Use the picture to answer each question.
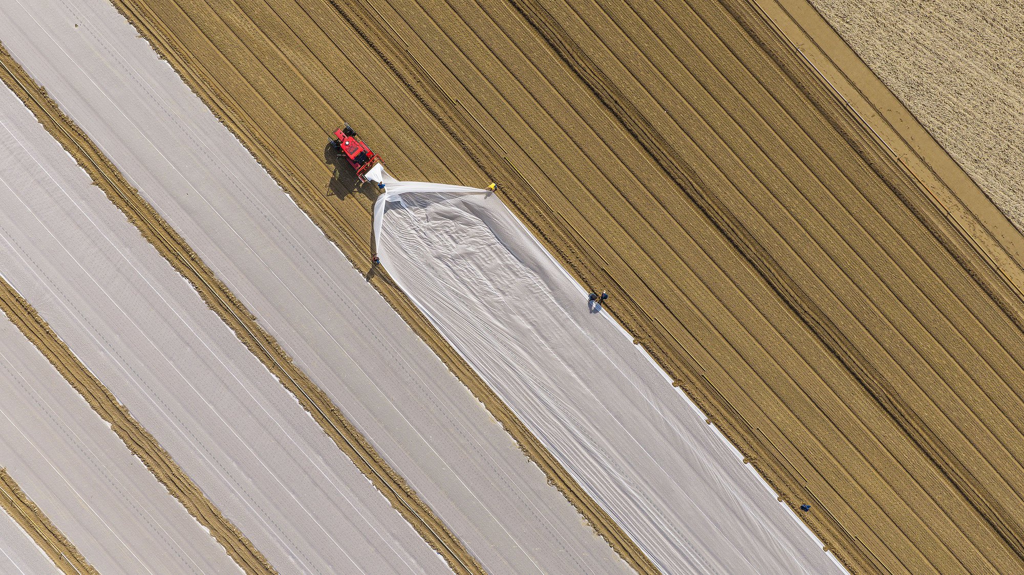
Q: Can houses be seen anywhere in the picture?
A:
No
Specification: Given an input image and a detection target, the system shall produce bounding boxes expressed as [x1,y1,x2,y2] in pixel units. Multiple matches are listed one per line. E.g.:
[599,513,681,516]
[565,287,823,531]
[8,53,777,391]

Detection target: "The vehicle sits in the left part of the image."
[328,122,386,182]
